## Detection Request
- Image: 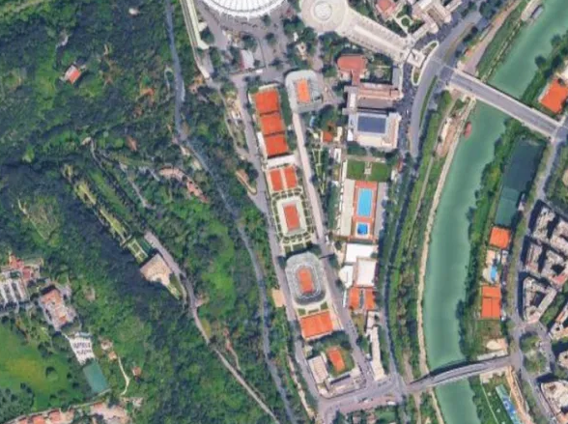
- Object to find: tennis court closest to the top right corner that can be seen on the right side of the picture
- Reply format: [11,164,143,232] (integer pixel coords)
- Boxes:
[541,79,568,111]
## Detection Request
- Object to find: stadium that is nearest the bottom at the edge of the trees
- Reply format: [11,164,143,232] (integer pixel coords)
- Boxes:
[286,253,327,305]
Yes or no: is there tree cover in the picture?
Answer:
Yes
